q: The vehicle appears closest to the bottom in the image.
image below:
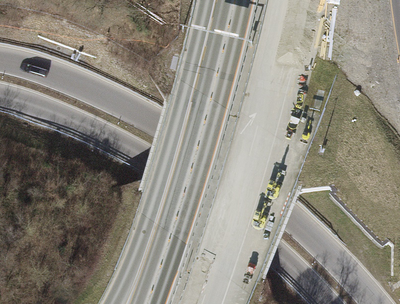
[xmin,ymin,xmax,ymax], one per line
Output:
[243,261,258,284]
